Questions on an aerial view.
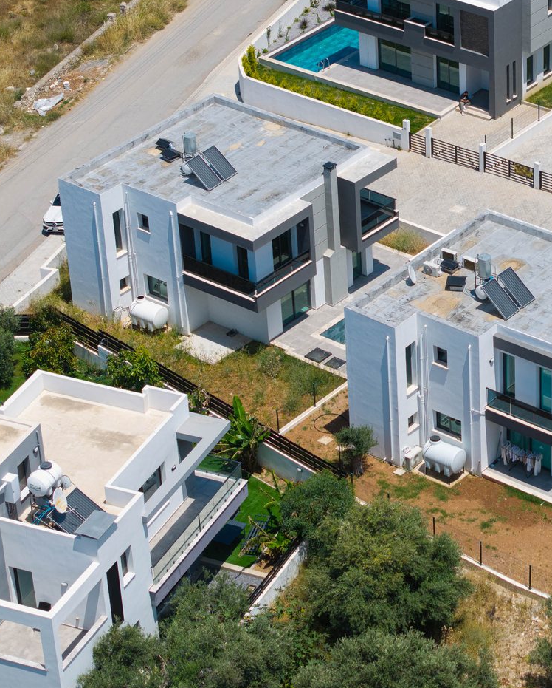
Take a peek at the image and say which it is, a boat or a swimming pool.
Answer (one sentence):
There is a swimming pool in the scene.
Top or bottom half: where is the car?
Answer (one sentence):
You can find the car in the top half.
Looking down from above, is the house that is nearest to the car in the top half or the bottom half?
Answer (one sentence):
Seen from above, the house that is nearest to the car lies in the top half of the view.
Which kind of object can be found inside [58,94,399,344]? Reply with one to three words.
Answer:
house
